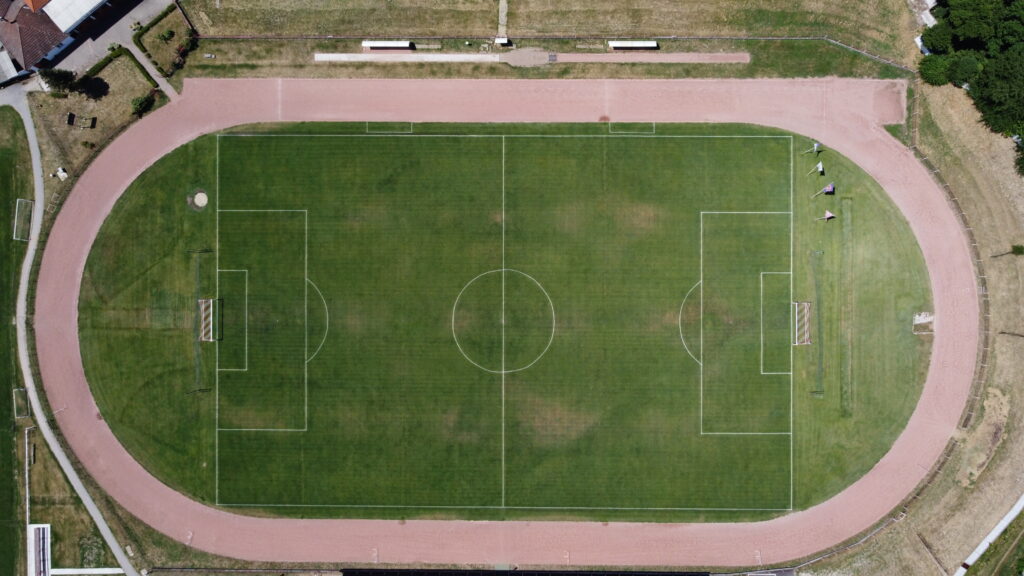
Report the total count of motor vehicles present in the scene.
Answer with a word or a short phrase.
1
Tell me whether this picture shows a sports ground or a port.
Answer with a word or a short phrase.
sports ground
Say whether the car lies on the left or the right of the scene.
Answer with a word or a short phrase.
right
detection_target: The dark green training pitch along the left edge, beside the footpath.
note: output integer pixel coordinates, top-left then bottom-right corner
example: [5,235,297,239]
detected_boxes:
[0,106,23,576]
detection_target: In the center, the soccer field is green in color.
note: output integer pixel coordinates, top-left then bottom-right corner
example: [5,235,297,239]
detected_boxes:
[216,123,792,511]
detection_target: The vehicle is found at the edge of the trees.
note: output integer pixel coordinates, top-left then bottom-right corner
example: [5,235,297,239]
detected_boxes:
[914,31,935,57]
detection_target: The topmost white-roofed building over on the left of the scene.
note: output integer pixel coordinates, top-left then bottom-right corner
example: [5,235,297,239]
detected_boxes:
[41,0,134,41]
